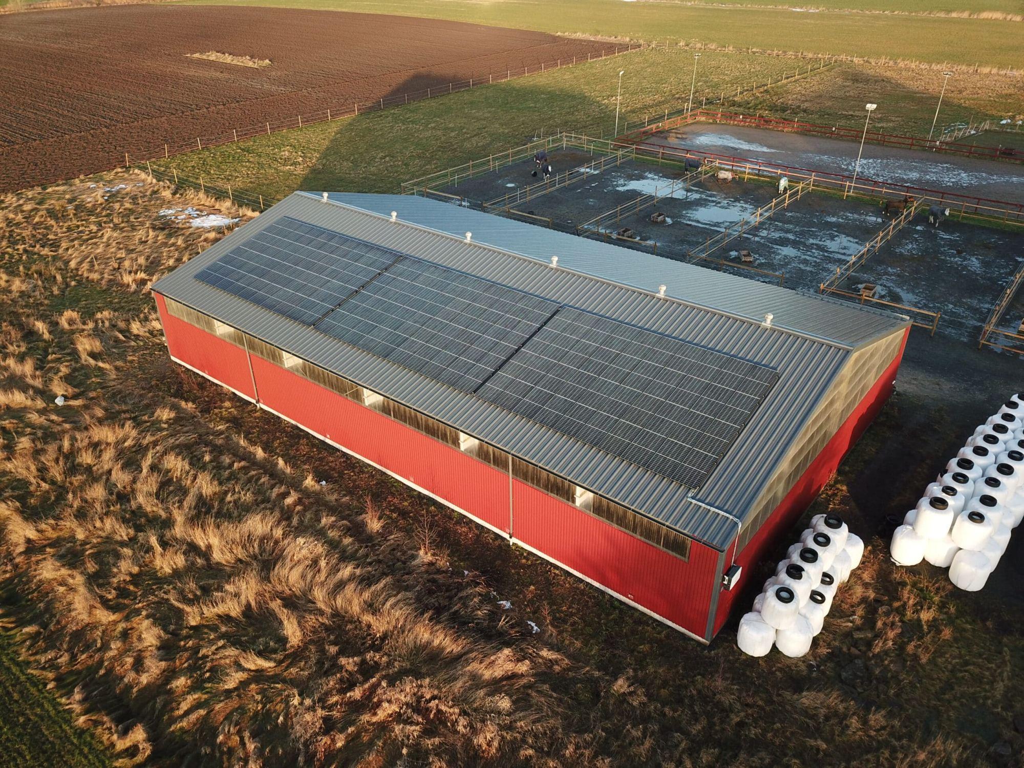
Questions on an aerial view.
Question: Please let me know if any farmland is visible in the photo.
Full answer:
Yes, some farmland is visible.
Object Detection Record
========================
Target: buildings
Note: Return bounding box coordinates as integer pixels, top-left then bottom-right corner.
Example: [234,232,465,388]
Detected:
[148,189,914,642]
